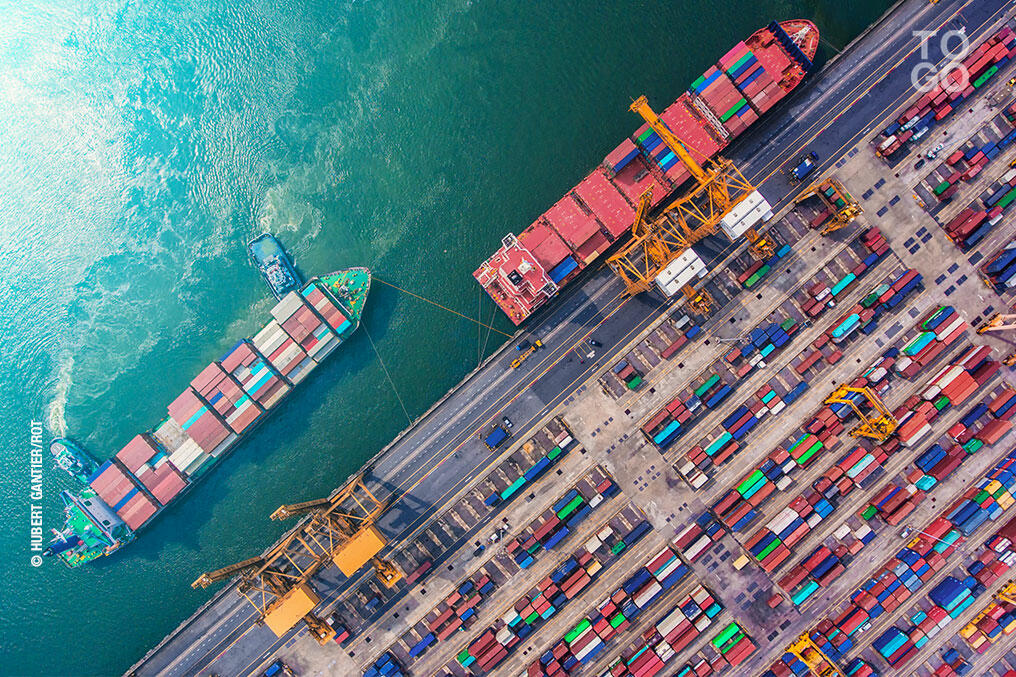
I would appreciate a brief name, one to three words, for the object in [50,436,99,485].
boat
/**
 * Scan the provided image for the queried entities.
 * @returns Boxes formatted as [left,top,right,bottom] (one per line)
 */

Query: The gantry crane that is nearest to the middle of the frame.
[592,186,712,319]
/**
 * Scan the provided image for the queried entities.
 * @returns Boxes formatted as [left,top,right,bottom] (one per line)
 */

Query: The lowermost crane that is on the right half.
[785,630,848,677]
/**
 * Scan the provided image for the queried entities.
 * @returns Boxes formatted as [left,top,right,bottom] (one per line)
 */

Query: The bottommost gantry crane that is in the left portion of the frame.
[192,522,344,643]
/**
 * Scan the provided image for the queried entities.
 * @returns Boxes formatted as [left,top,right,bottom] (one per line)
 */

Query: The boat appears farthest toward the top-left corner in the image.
[247,230,297,296]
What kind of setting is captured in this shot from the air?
port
